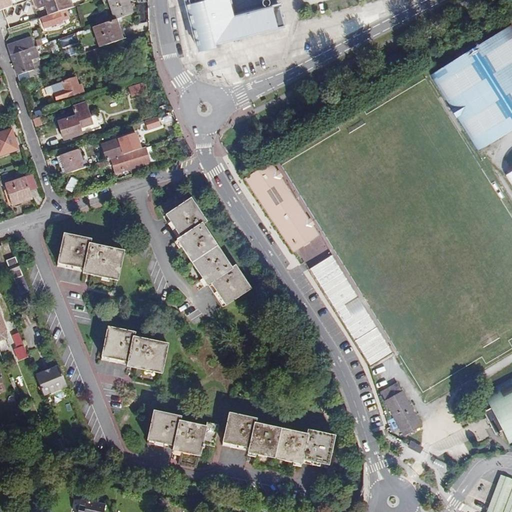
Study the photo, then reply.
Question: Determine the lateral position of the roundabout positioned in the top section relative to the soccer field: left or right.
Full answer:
Looking at the picture, you'll find the roundabout positioned in the top section to the left of the soccer field.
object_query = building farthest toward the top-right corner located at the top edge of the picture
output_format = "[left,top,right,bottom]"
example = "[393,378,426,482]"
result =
[431,26,512,152]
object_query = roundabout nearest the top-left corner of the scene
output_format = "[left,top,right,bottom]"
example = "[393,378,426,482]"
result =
[178,80,233,137]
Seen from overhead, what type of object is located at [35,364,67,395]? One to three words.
house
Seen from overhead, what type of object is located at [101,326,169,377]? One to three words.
building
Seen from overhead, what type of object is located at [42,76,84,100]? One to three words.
house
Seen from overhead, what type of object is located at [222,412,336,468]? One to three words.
building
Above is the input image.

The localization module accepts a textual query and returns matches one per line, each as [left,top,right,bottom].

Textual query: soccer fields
[283,80,512,390]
